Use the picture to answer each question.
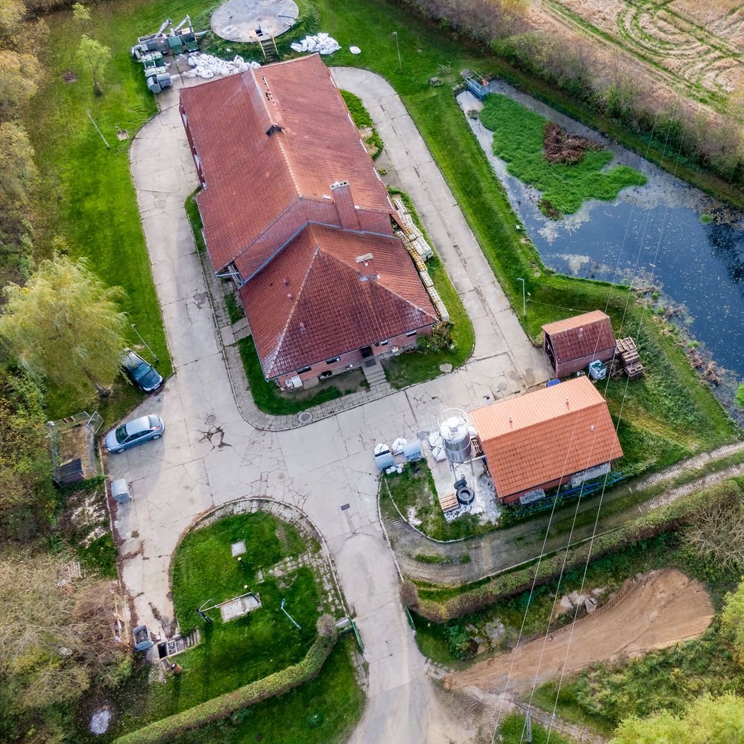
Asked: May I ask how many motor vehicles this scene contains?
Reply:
2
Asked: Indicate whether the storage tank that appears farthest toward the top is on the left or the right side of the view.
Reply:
left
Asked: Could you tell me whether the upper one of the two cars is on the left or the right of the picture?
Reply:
left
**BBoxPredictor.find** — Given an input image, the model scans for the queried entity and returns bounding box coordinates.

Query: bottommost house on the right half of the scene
[467,375,625,505]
